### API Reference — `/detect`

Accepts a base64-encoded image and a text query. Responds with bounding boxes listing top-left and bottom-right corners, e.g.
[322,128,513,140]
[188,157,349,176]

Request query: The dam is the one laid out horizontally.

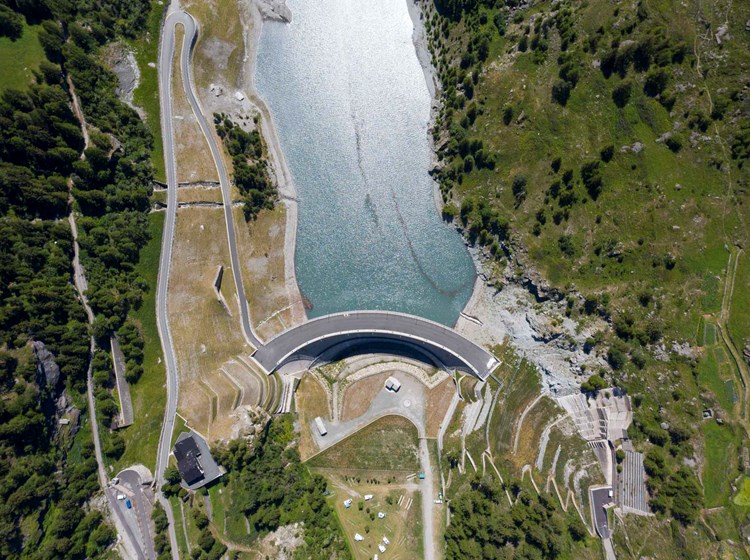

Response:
[253,309,502,389]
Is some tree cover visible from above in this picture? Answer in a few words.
Yes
